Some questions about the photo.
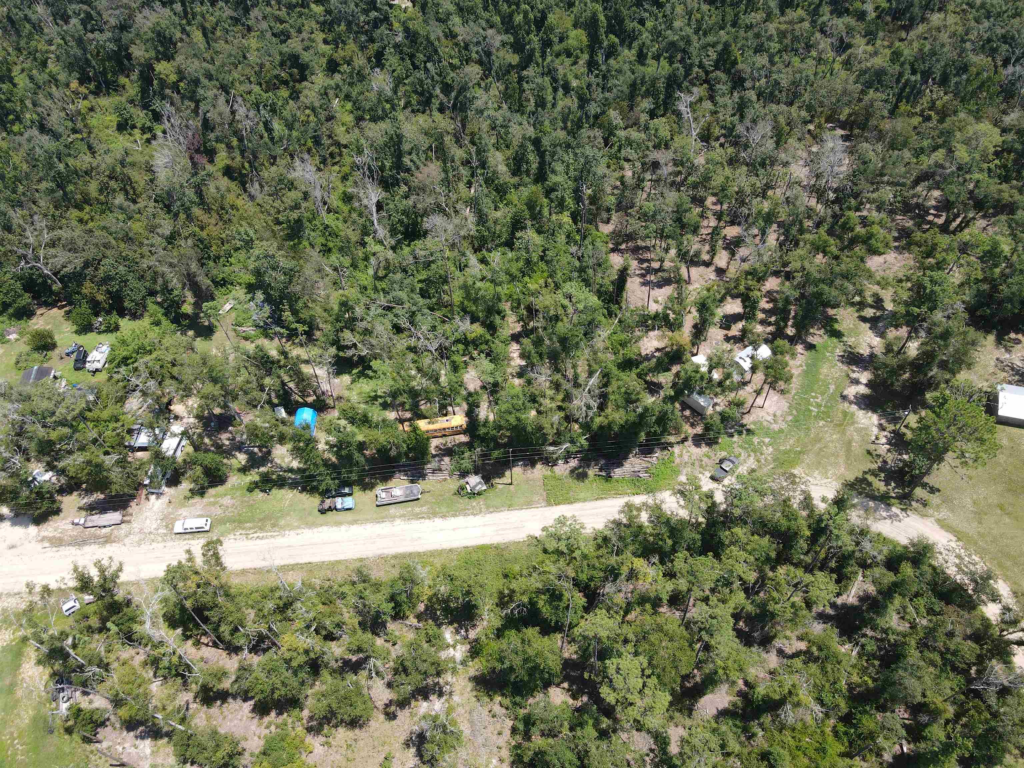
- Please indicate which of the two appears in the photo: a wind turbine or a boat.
boat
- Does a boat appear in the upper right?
No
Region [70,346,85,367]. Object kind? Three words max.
car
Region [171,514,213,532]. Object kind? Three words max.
car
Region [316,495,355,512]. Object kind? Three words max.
vehicle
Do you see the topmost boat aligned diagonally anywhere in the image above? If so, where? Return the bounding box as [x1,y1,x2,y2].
[85,342,108,373]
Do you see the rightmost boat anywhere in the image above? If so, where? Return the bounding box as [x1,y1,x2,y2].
[374,484,430,503]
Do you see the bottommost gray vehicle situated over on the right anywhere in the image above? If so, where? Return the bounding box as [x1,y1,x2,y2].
[714,456,742,483]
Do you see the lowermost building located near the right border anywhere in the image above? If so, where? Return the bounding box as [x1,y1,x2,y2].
[990,386,1024,429]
